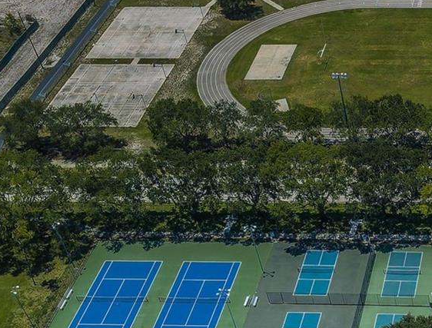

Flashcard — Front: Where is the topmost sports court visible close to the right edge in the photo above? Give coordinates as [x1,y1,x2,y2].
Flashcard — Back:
[382,251,422,297]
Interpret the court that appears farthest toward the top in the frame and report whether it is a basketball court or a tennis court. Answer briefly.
basketball court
